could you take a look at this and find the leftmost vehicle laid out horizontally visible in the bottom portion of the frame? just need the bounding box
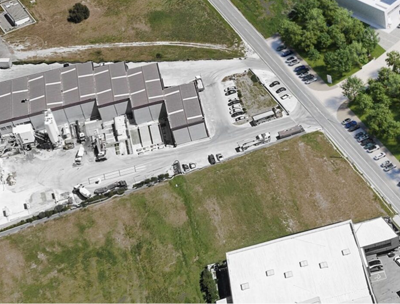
[92,177,131,195]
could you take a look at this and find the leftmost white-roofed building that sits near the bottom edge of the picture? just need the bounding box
[226,221,375,304]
